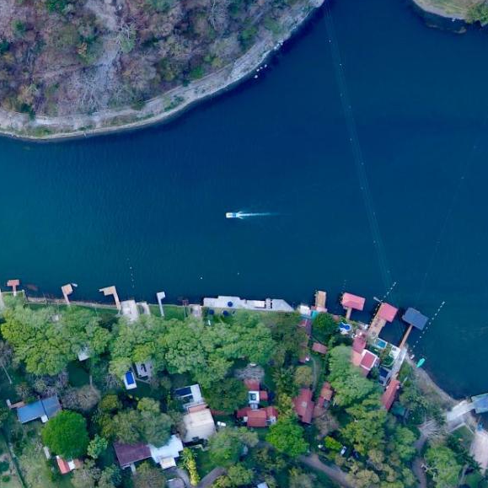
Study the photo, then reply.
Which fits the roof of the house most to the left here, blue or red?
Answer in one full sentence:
The roof of the house most to the left is blue.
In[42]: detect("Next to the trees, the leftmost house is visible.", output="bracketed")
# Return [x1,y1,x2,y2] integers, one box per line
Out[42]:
[6,393,61,423]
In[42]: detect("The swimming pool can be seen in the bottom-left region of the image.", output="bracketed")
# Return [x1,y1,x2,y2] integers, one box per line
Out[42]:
[123,370,136,390]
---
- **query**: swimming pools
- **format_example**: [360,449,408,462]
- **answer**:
[337,322,353,335]
[123,370,136,390]
[375,337,388,350]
